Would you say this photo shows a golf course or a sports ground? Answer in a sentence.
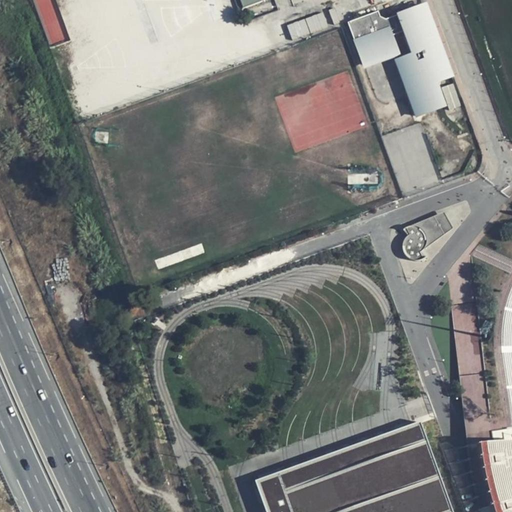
The area seen from above is a sports ground.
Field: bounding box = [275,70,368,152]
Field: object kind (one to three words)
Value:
sports court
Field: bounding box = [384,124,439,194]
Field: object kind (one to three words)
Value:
sports court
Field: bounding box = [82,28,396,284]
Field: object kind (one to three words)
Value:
sports field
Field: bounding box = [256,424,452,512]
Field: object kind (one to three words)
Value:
building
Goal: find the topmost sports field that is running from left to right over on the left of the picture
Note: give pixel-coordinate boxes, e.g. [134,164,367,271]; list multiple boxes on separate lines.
[54,0,340,120]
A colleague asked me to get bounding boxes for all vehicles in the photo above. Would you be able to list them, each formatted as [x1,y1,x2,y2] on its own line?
[20,458,29,470]
[19,364,27,375]
[38,389,46,400]
[7,406,15,417]
[464,504,475,511]
[460,494,470,500]
[65,452,73,464]
[48,456,56,468]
